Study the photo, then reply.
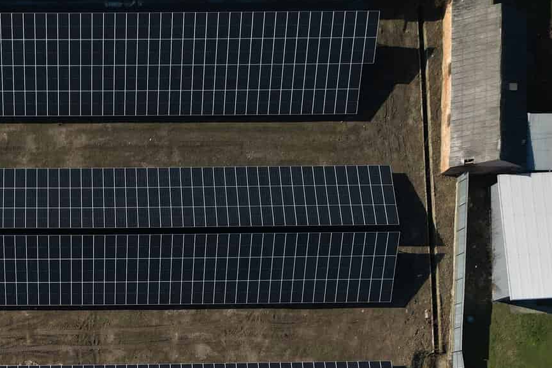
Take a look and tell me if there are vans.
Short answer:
No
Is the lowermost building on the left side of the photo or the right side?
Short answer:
right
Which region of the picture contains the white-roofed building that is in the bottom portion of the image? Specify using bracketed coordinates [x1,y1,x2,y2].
[480,172,552,306]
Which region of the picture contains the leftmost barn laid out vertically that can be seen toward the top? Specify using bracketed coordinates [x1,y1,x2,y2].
[440,1,525,177]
